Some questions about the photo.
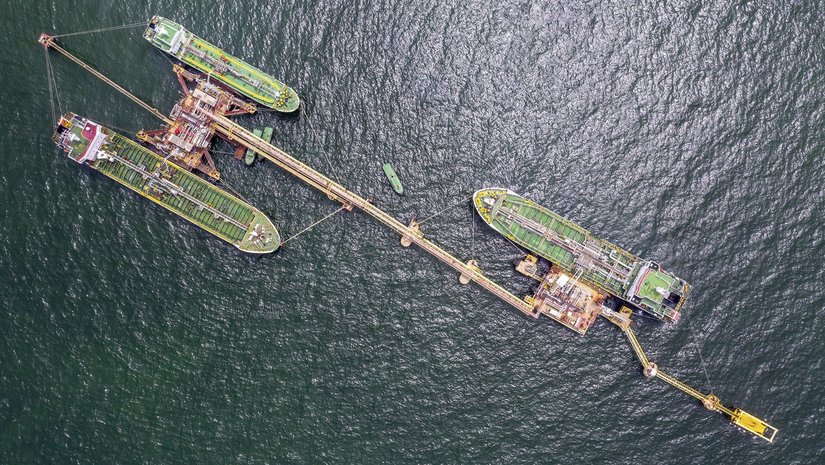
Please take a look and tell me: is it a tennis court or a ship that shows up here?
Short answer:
ship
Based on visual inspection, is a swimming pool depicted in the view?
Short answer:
No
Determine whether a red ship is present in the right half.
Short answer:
No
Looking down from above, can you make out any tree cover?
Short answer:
No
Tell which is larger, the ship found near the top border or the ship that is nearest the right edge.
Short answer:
the ship that is nearest the right edge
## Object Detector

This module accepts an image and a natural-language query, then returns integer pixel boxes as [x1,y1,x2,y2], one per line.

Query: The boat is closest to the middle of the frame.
[383,162,403,193]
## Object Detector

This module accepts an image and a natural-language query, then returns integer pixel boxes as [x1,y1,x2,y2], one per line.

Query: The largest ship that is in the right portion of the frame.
[474,189,693,319]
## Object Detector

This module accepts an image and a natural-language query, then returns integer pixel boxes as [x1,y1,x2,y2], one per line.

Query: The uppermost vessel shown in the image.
[144,14,298,112]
